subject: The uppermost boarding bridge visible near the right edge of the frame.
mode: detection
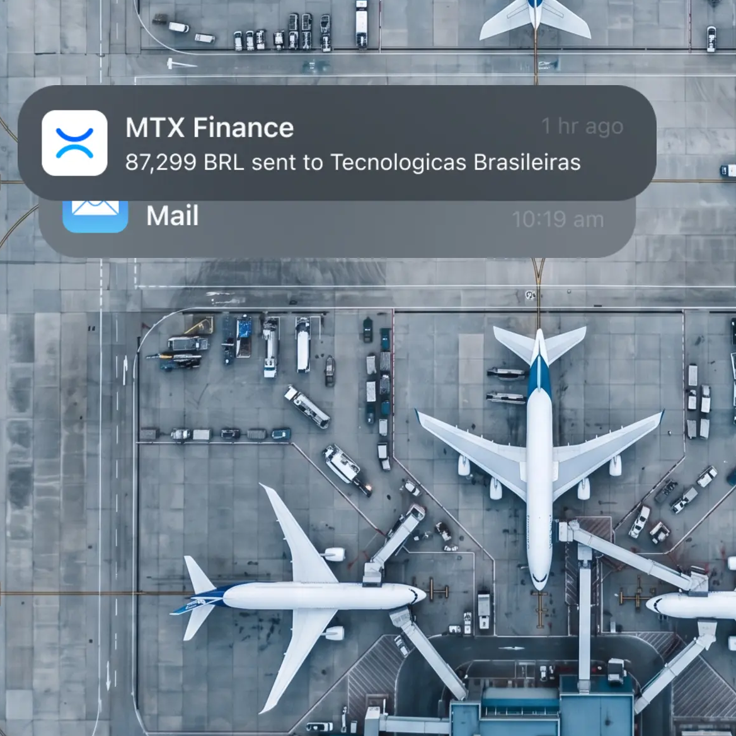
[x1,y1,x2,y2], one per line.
[553,517,709,594]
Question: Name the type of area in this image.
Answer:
airport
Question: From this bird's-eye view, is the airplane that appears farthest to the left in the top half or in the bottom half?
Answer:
bottom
